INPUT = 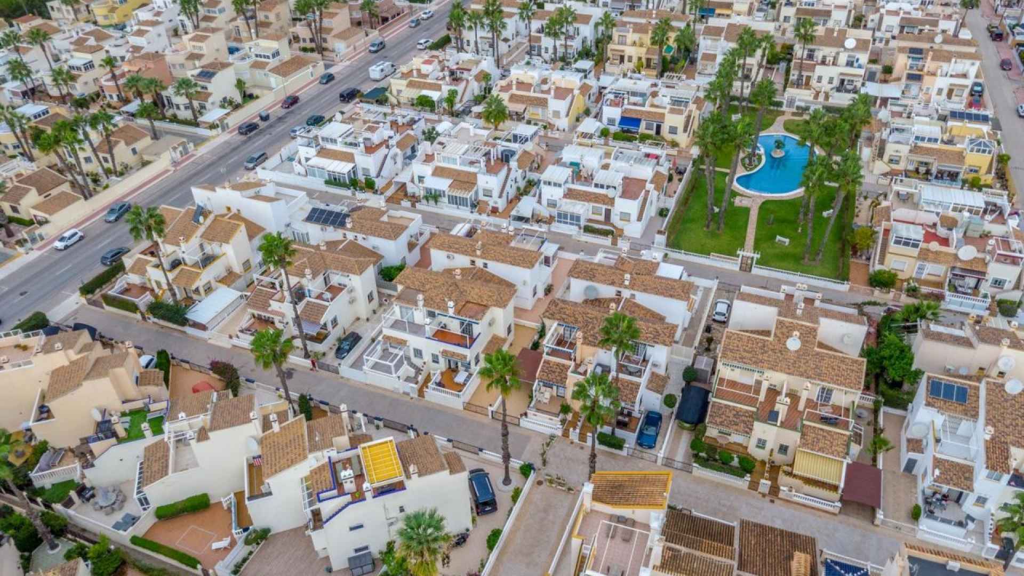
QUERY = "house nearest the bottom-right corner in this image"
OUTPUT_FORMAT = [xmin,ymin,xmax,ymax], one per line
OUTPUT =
[894,531,1003,576]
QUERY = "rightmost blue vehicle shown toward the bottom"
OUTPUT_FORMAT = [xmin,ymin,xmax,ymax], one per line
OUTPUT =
[635,411,663,446]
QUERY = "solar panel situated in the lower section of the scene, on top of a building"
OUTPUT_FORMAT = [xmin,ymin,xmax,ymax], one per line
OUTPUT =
[933,379,968,407]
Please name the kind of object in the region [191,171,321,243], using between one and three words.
house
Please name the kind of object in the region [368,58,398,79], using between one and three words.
camper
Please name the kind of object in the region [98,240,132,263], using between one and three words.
car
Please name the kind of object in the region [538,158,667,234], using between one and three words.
house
